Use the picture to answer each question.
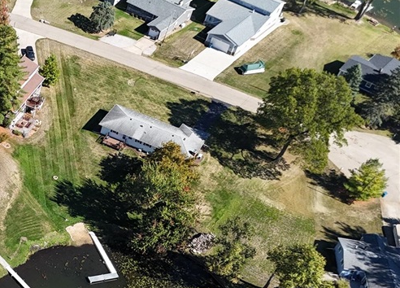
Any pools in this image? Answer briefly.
No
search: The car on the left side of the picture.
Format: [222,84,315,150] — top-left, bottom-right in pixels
[24,43,39,61]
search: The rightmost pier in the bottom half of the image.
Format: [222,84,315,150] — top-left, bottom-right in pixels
[87,231,120,284]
